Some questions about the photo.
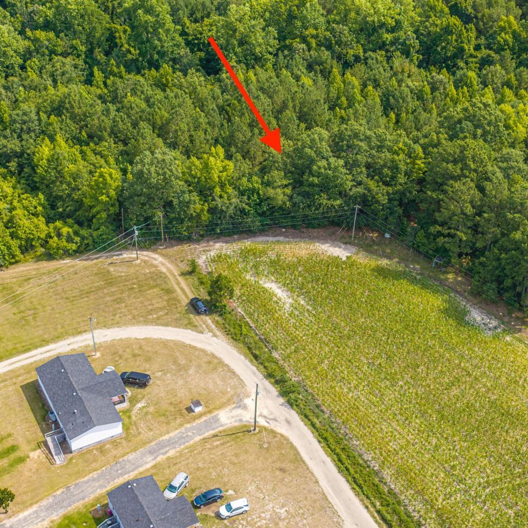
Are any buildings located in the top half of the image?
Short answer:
No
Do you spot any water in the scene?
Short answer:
No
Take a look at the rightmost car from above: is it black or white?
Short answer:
white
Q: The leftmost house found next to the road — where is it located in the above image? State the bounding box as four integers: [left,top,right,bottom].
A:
[36,354,124,452]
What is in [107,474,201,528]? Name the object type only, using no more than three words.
house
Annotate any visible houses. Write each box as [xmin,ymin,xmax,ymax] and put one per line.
[36,354,124,452]
[107,474,201,528]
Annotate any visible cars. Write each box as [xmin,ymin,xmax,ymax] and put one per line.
[216,496,252,521]
[120,372,153,390]
[95,365,118,375]
[191,487,226,511]
[165,468,190,499]
[189,297,208,315]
